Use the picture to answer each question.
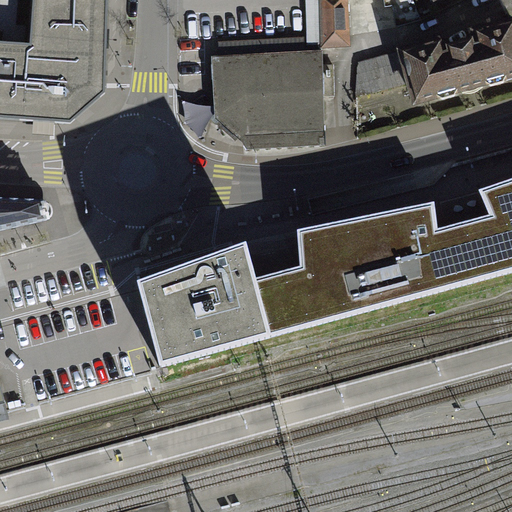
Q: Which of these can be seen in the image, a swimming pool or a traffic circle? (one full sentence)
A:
The image shows a traffic circle.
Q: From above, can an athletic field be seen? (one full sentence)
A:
No, no athletic field is visible in the scene.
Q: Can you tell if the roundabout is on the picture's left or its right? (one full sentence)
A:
The roundabout is on the left side of the image.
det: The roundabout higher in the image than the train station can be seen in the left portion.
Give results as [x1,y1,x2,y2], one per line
[81,112,195,228]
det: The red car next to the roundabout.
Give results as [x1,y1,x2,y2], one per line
[188,154,208,168]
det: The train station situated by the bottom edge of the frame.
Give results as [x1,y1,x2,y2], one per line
[0,338,512,509]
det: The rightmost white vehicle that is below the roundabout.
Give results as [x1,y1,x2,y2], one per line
[120,354,132,375]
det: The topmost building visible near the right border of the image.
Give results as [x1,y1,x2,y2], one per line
[396,22,512,106]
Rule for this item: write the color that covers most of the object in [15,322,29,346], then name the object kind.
white vehicle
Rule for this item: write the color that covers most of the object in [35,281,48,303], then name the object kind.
white vehicle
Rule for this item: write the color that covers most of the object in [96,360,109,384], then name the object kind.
red vehicle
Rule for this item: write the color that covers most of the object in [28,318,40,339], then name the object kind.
red vehicle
